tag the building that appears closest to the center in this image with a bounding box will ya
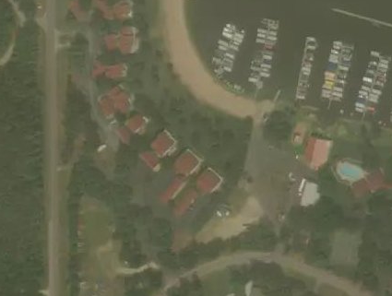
[174,149,201,176]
